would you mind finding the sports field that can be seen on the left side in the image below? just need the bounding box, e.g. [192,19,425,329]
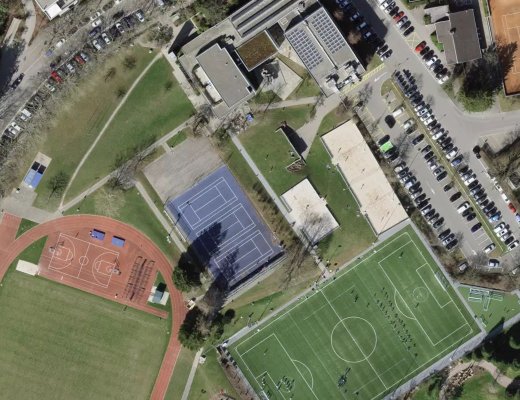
[0,236,172,400]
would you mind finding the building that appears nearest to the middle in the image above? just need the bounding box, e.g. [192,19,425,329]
[281,178,340,245]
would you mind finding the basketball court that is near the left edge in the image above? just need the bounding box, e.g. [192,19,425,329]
[26,226,171,319]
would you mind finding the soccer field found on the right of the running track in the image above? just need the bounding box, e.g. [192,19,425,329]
[228,224,478,400]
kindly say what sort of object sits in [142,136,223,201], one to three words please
sports court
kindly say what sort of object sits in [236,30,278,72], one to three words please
building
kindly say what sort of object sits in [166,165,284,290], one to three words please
tennis court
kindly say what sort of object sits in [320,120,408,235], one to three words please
building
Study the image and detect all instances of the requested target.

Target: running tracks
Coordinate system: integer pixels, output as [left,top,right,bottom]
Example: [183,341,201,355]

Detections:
[0,211,186,400]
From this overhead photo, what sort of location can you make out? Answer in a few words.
sports ground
